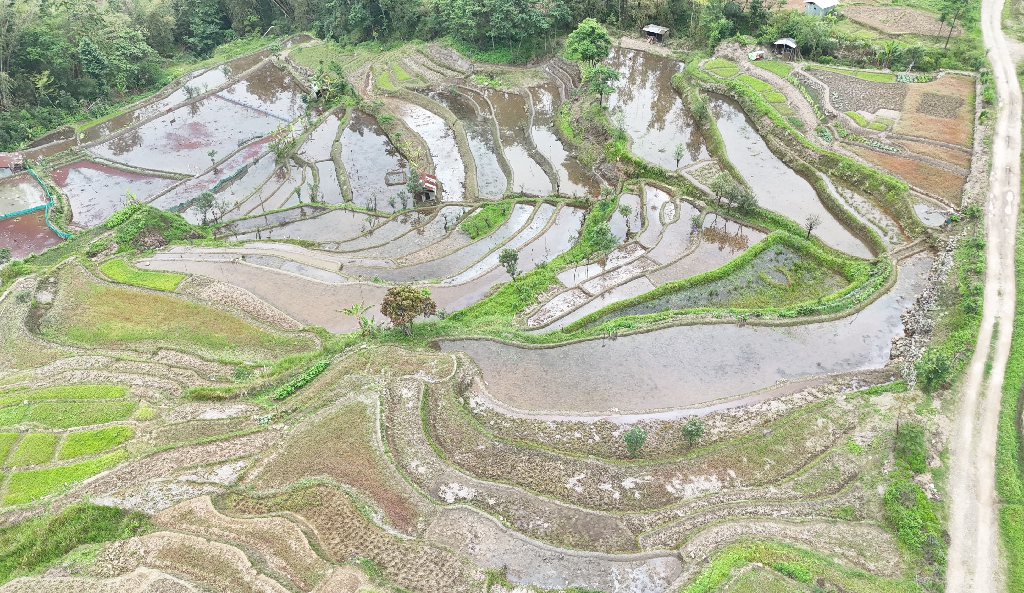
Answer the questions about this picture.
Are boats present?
No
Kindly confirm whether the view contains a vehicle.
No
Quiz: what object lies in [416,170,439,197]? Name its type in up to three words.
shed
